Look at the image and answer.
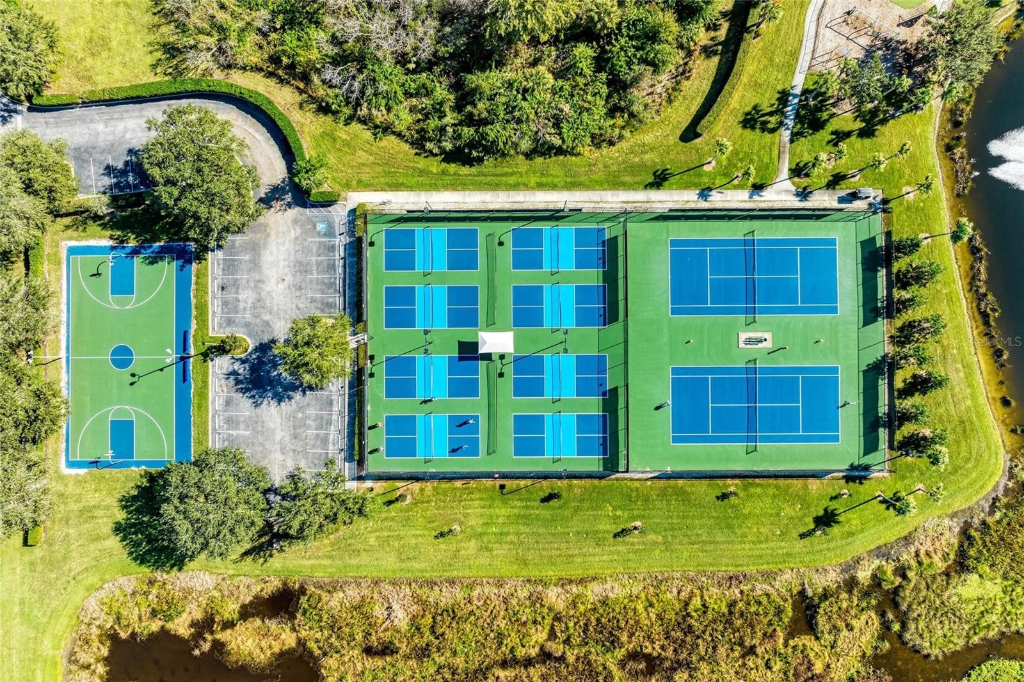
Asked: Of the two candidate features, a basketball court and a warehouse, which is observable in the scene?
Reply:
basketball court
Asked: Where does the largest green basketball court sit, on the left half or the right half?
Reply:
left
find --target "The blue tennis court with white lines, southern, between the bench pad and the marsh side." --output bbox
[671,366,840,444]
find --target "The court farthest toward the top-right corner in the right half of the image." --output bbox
[670,237,839,316]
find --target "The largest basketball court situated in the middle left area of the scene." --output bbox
[60,241,195,474]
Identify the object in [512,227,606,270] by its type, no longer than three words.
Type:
sports court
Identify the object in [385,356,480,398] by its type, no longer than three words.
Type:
sports court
